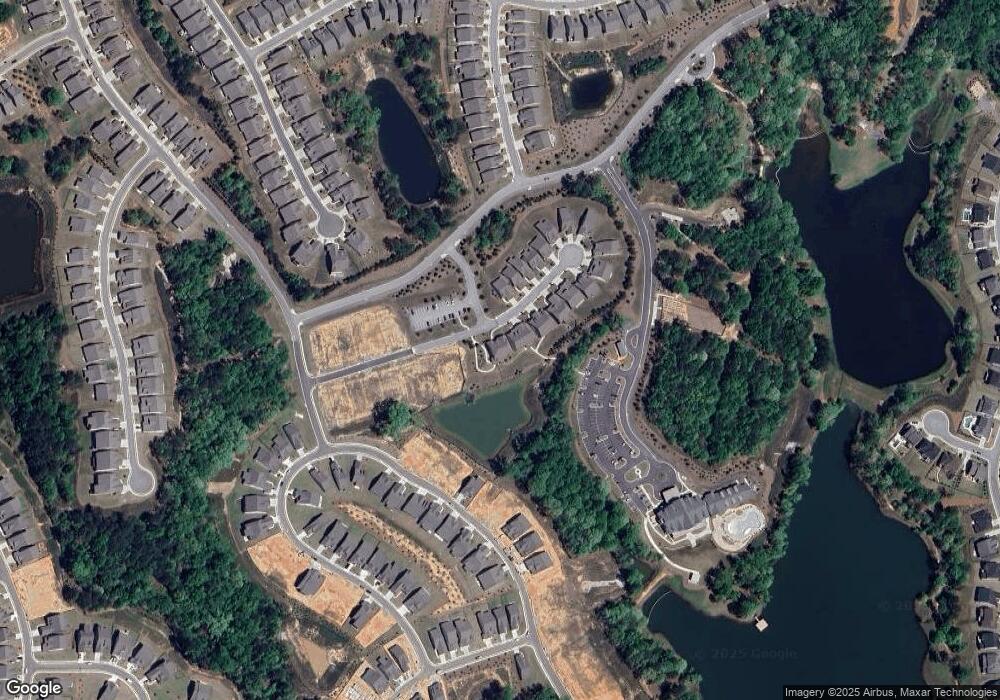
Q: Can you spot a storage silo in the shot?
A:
No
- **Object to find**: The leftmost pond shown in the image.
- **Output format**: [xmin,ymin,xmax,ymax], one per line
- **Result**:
[0,192,41,302]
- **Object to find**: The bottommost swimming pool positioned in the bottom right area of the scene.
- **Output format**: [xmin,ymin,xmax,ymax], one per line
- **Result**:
[712,504,766,551]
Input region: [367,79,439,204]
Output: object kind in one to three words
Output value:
pond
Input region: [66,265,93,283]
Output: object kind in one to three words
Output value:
house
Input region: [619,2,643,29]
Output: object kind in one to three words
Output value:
house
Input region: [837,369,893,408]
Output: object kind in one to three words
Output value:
dam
